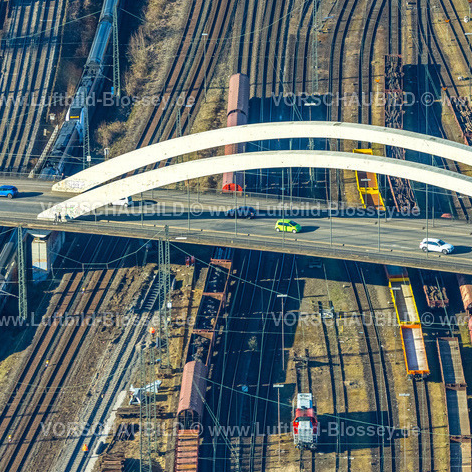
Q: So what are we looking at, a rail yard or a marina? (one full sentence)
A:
This looks like a rail yard.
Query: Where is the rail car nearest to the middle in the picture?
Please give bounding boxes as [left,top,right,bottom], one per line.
[208,247,234,268]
